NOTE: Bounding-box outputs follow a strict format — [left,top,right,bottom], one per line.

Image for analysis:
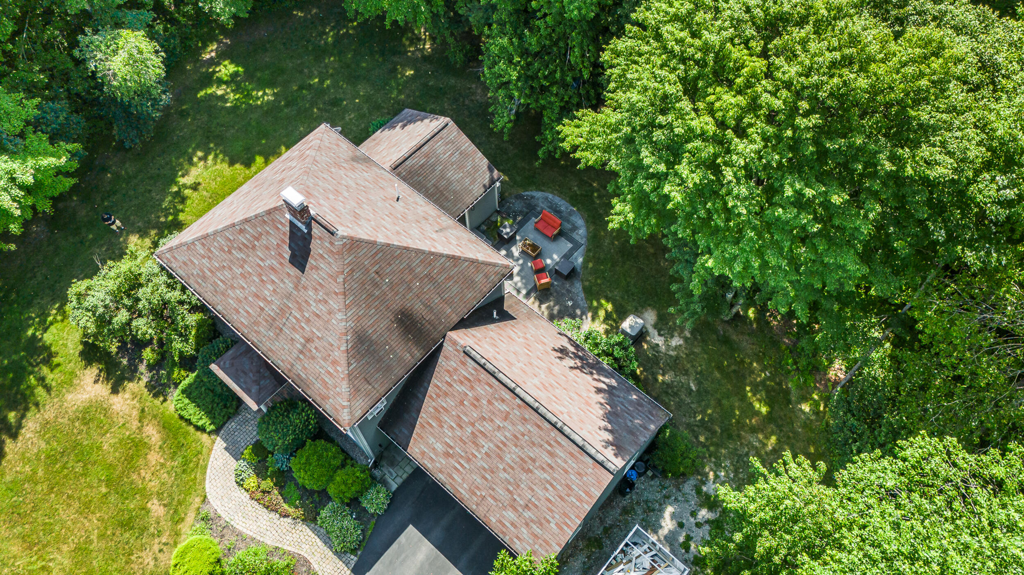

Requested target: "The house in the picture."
[155,109,673,575]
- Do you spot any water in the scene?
No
